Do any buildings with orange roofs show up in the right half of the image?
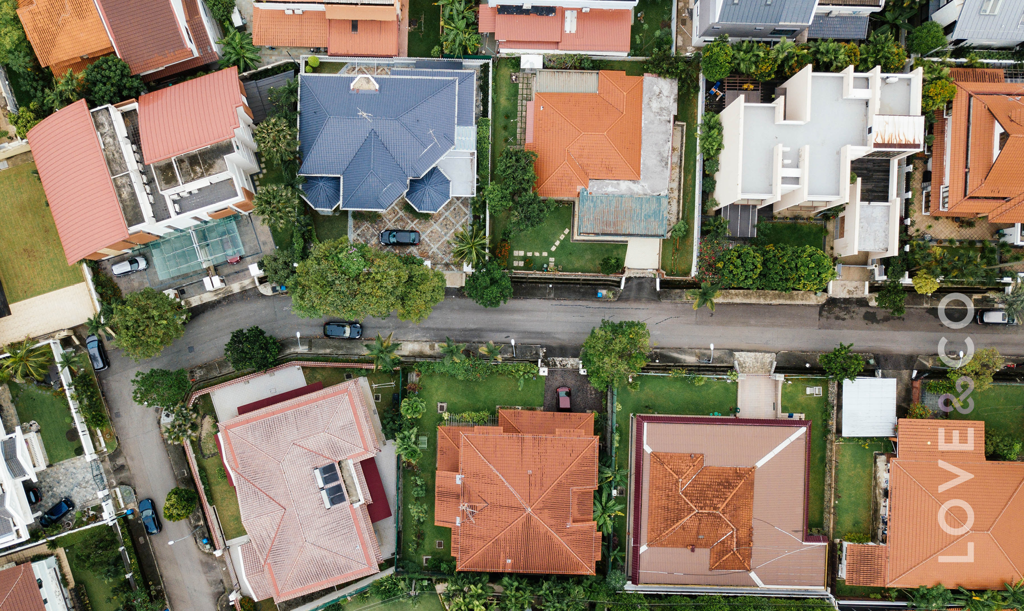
Yes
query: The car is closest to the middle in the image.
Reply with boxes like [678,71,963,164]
[554,382,573,412]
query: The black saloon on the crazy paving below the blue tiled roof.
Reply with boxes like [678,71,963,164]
[380,227,421,247]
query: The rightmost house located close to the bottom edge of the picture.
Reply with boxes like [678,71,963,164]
[832,418,1024,590]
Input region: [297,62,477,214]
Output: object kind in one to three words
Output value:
house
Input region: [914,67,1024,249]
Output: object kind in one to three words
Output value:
house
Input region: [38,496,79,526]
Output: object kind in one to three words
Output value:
car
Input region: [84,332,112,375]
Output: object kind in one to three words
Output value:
car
